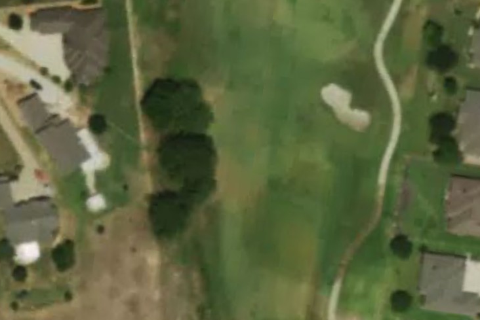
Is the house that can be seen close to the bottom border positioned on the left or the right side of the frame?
right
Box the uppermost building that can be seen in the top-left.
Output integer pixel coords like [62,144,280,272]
[29,6,107,89]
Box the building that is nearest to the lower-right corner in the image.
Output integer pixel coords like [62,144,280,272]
[419,253,480,317]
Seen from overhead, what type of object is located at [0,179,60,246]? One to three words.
house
